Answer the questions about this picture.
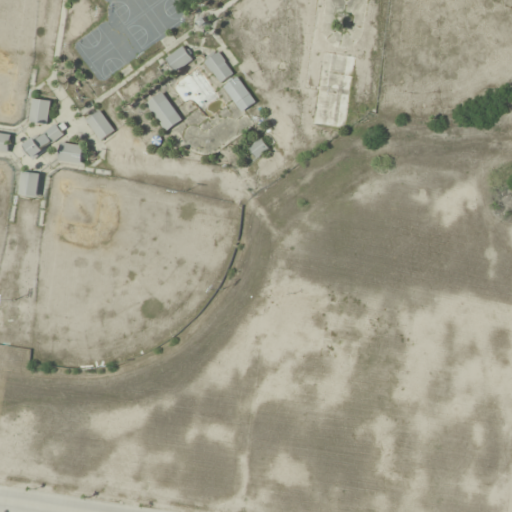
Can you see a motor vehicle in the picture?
No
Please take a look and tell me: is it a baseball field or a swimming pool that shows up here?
baseball field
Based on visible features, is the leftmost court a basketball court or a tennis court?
basketball court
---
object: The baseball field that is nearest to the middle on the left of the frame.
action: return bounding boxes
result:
[34,170,243,366]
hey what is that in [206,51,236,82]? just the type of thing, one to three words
building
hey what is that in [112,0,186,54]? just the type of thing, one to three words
basketball court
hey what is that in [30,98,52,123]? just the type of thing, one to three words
building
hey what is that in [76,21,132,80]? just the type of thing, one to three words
basketball court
